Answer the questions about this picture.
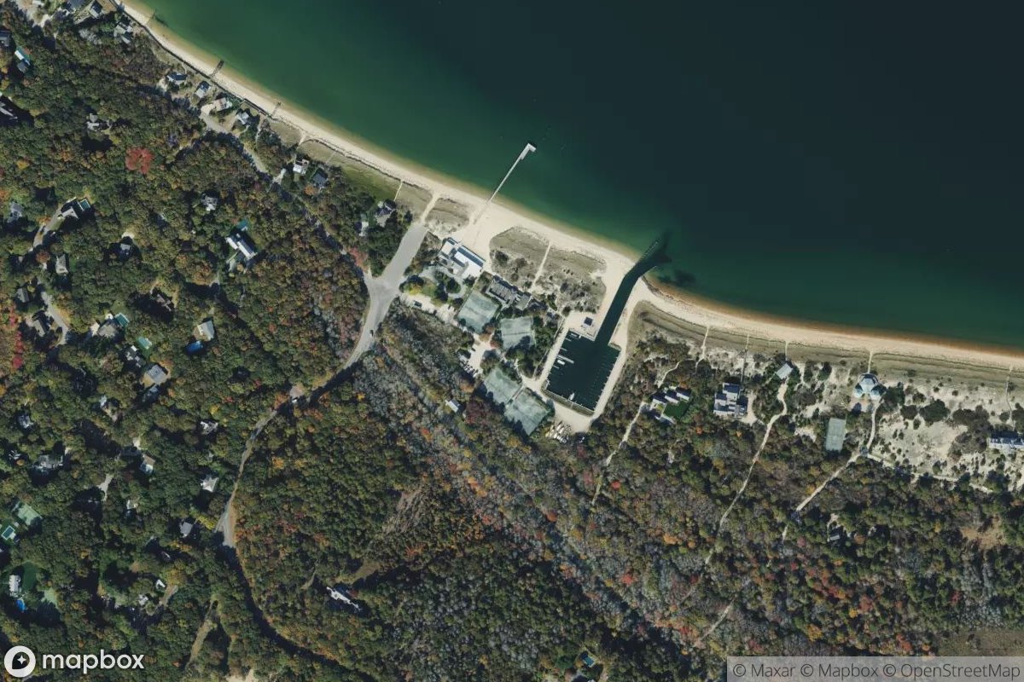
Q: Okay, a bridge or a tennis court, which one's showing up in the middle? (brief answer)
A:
tennis court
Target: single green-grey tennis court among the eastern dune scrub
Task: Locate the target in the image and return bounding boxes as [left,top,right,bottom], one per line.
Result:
[826,418,846,453]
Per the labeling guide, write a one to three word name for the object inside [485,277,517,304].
building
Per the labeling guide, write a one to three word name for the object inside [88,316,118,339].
house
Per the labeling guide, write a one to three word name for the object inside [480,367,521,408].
tennis court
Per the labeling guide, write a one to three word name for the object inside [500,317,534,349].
tennis court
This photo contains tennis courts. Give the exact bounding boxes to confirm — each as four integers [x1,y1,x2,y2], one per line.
[480,367,521,408]
[500,317,534,349]
[40,588,61,610]
[826,418,846,453]
[457,292,498,332]
[505,391,548,434]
